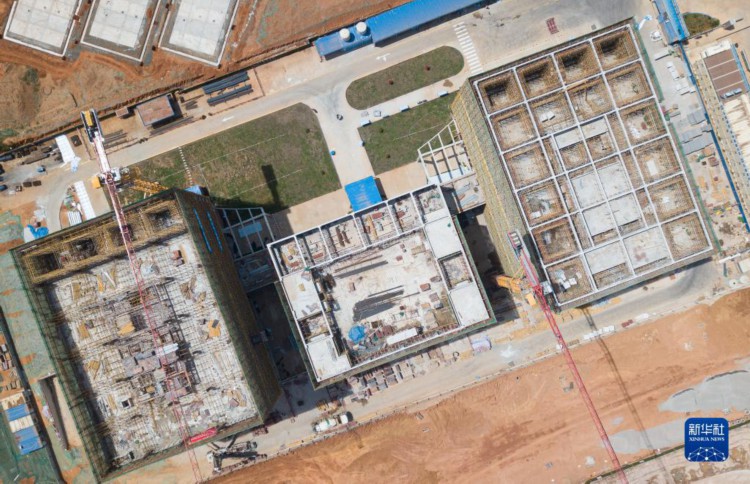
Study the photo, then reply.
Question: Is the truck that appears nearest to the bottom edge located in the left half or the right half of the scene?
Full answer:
You can find the truck that appears nearest to the bottom edge on the left side of the picture.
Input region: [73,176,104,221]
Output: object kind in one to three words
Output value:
shed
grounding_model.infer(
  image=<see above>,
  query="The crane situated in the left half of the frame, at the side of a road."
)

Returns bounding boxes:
[78,105,205,484]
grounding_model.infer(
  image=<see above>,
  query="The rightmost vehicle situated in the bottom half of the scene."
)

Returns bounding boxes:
[310,407,354,434]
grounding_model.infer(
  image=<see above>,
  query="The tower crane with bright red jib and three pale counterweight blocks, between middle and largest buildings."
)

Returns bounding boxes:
[481,232,634,484]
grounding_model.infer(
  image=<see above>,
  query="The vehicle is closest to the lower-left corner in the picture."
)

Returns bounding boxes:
[203,439,272,477]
